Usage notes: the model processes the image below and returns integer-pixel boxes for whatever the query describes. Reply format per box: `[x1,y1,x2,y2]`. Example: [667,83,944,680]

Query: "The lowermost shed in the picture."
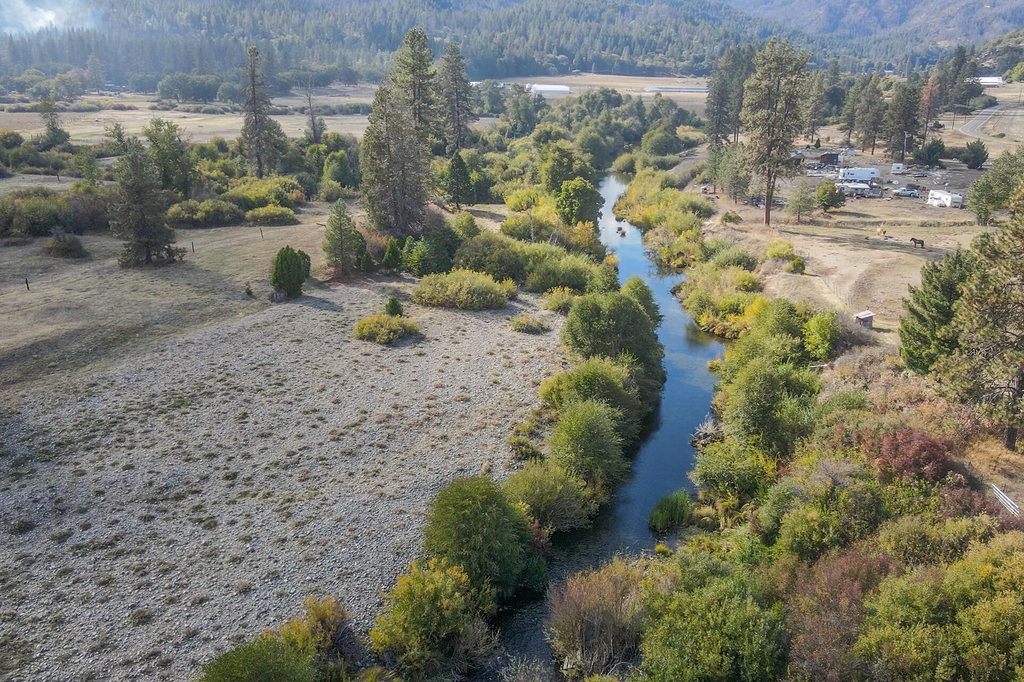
[852,298,879,327]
